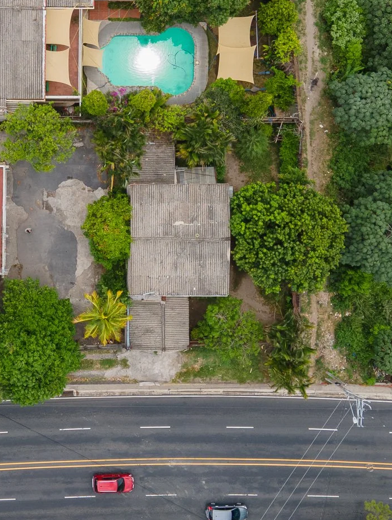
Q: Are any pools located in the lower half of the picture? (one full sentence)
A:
No, there's no pool to be seen in the lower half of the picture.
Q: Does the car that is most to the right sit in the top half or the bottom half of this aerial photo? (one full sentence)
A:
The bottom half of the photo is where the car that is most to the right is.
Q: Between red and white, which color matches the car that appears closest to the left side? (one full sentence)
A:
The car that appears closest to the left side is red.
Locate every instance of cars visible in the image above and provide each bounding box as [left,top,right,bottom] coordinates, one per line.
[92,471,133,494]
[206,500,246,520]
